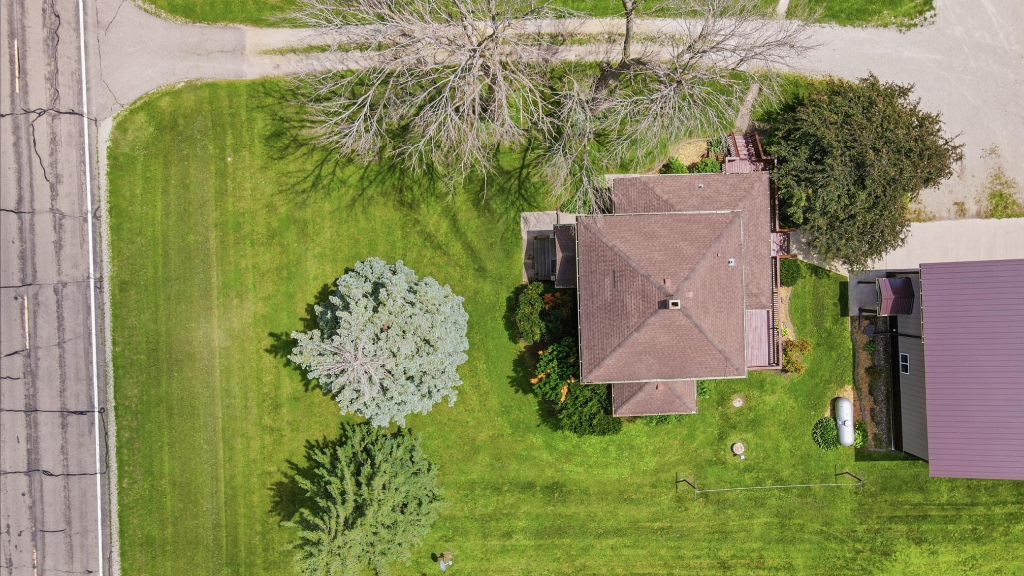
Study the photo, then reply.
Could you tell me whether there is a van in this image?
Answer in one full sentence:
No, no van is visible in the view.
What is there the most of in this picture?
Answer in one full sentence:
The largest share of the image is taken up by grass.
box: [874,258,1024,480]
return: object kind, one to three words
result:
shed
